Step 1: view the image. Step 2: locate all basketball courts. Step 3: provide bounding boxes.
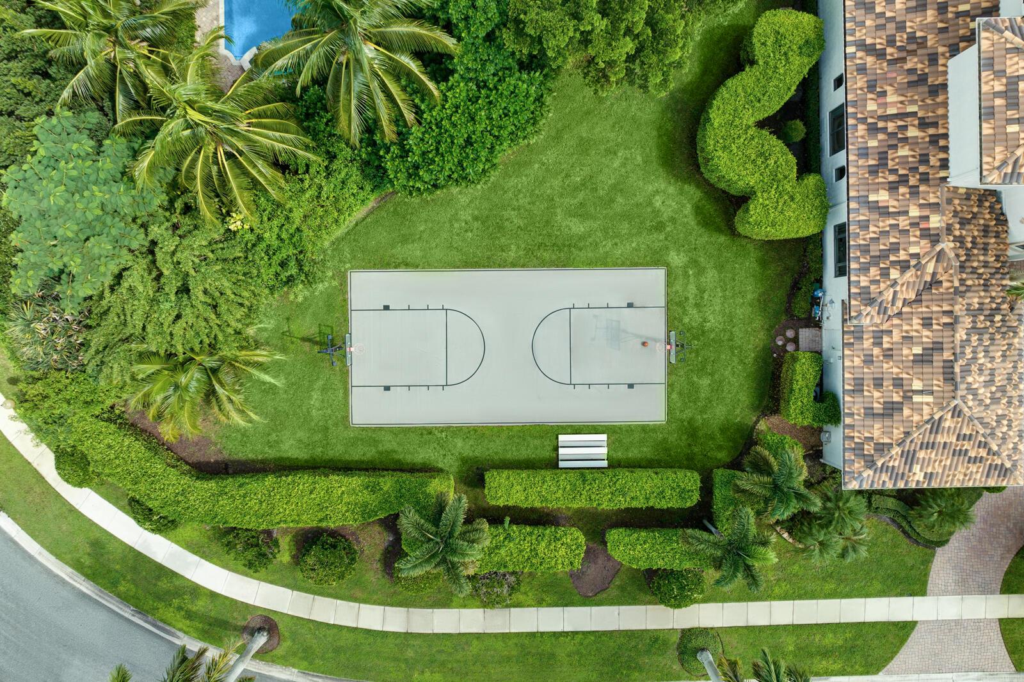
[348,267,667,427]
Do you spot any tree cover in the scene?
Yes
